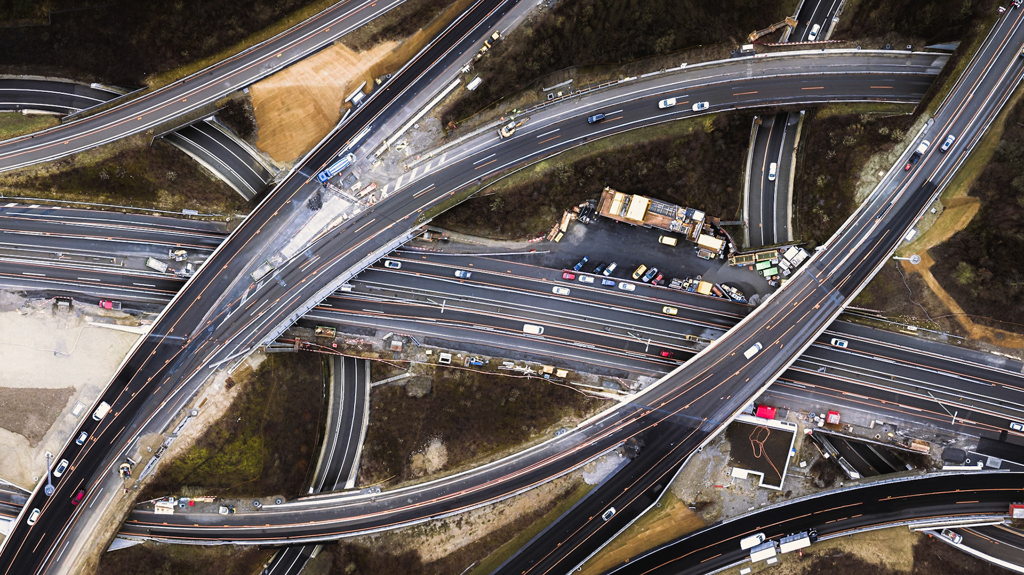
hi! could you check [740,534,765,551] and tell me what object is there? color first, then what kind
white vehicle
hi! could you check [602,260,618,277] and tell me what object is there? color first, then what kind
white car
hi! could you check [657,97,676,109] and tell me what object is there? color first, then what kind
white vehicle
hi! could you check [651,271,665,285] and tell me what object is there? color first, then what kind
red car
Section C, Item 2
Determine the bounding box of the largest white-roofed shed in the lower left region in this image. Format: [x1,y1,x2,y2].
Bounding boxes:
[155,496,178,515]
